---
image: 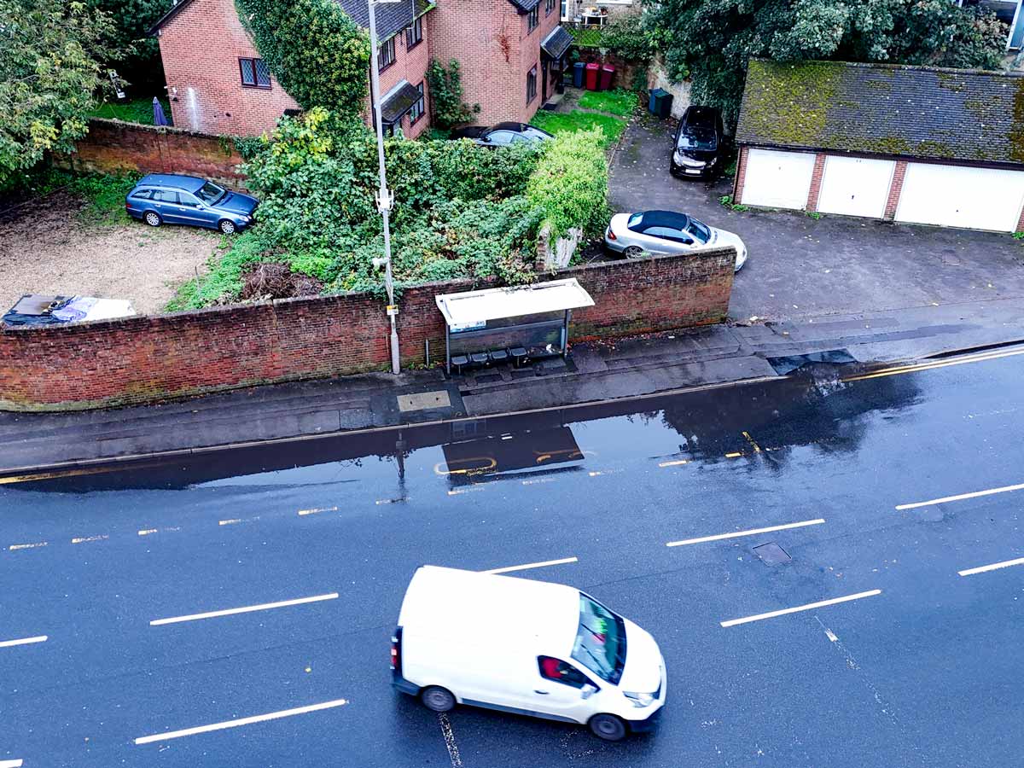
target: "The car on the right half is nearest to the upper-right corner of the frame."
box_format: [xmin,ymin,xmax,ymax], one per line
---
[667,108,724,170]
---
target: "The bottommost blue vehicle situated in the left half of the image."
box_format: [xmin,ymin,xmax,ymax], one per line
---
[119,173,253,235]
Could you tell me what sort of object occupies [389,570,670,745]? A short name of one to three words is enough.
van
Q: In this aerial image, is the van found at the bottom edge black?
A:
No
